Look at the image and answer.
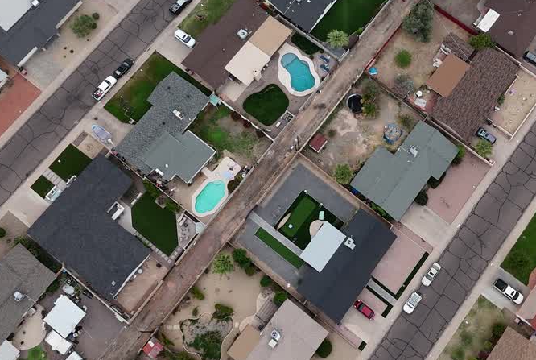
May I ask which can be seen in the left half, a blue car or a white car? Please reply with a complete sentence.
There is a white car in the left half.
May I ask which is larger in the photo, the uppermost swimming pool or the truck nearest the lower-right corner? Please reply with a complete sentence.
The swimming pool takes up more space than the truck does.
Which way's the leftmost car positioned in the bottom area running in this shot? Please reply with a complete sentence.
Seen from above, the leftmost car positioned in the bottom area lies at an angle.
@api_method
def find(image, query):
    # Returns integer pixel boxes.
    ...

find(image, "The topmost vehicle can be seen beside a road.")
[169,0,192,15]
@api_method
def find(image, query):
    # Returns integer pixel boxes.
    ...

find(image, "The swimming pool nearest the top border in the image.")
[277,49,320,97]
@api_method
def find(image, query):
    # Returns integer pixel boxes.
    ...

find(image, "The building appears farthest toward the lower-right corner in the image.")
[486,326,536,360]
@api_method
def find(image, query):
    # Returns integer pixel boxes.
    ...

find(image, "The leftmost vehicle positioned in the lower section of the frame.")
[353,299,375,321]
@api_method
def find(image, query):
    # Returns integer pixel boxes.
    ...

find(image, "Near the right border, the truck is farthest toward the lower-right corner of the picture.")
[493,280,522,304]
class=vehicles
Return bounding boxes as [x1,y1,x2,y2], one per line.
[169,0,192,15]
[353,299,375,321]
[524,52,536,67]
[493,280,522,304]
[92,76,117,101]
[476,127,497,145]
[402,290,421,315]
[114,58,134,78]
[421,262,440,287]
[175,29,195,48]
